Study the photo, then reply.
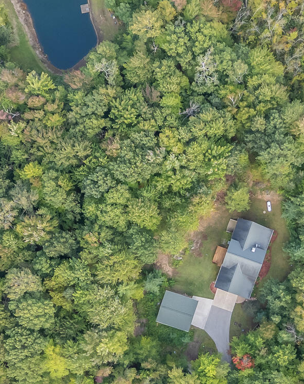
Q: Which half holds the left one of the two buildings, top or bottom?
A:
bottom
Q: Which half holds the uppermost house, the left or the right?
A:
right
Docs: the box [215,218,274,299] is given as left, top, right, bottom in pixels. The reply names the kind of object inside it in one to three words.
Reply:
house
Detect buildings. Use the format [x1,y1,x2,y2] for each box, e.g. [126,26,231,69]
[215,218,274,299]
[156,290,199,332]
